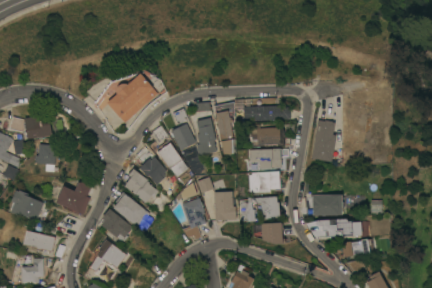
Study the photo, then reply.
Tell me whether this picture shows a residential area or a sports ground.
residential area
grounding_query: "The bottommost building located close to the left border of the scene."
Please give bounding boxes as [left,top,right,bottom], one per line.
[20,255,46,284]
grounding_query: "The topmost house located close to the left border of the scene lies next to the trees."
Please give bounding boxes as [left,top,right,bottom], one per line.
[10,117,51,138]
